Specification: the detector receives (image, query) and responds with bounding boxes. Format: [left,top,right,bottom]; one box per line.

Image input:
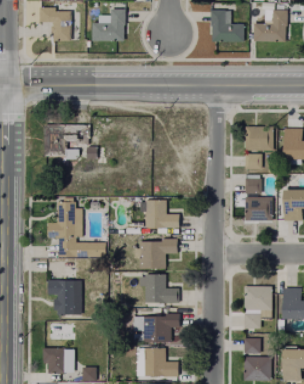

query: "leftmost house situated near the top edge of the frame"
[40,8,72,41]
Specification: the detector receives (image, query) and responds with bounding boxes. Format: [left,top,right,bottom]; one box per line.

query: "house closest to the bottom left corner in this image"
[44,348,76,374]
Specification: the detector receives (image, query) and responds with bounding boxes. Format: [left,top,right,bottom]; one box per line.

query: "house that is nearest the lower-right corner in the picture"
[282,346,304,382]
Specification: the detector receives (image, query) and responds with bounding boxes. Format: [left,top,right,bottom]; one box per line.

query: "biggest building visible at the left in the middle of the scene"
[48,202,108,257]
